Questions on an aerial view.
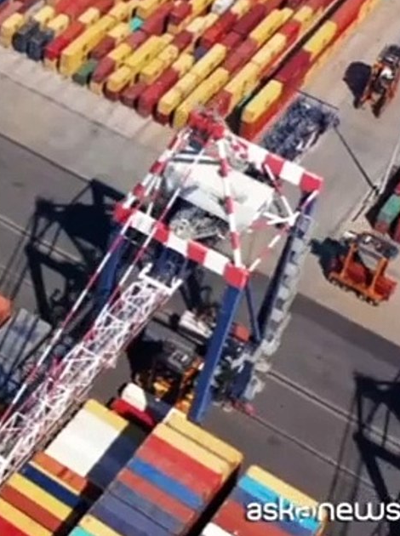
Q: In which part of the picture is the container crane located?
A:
center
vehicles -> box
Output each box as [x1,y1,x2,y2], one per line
[319,217,397,304]
[128,316,203,407]
[355,34,400,111]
